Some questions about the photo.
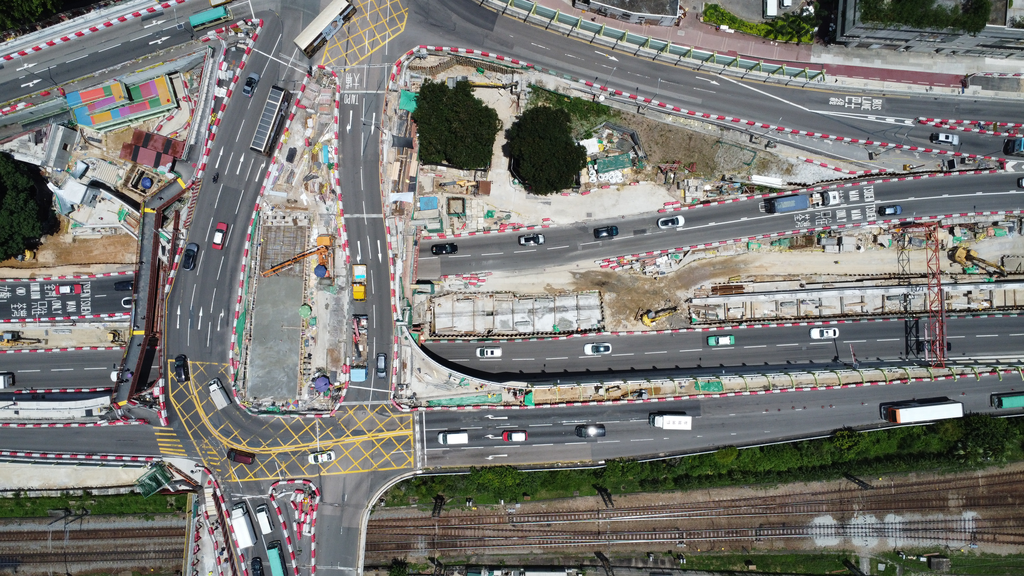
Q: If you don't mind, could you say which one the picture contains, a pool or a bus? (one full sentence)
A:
Of the two, only a bus appears.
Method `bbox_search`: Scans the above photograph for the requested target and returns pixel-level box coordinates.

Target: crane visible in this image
[259,231,344,282]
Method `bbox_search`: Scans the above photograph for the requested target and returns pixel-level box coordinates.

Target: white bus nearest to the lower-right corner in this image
[876,400,964,425]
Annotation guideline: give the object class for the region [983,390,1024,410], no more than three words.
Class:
vehicle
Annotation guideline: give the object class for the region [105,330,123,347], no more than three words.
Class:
work vehicle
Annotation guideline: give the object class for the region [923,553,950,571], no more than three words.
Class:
shed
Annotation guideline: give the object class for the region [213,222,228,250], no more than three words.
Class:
car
